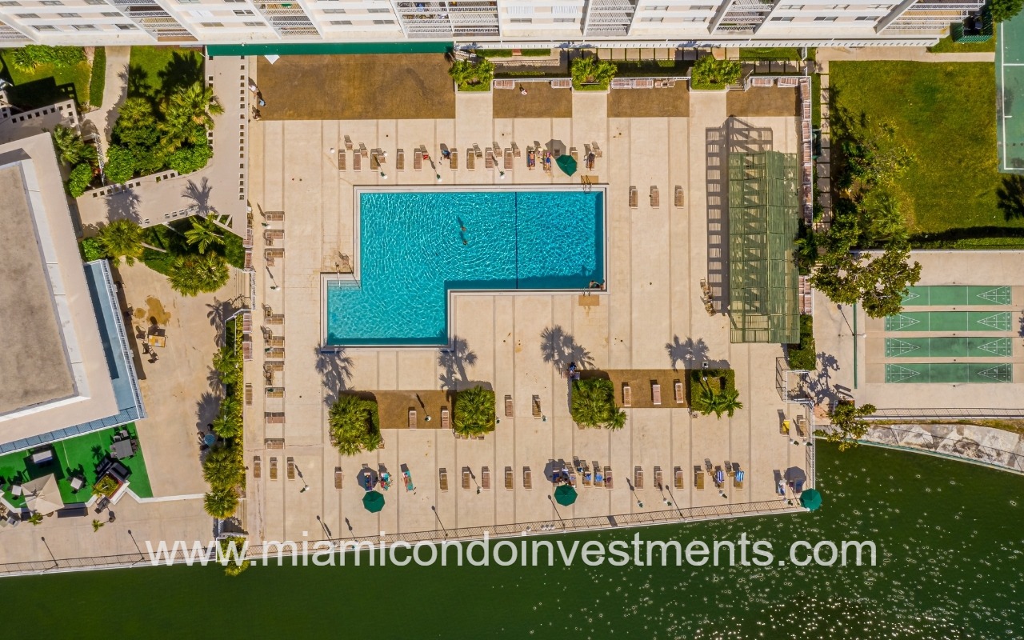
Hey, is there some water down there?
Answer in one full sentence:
Yes, some water is visible.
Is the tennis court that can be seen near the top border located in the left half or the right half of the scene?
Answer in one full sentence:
The tennis court that can be seen near the top border is on the right side of the image.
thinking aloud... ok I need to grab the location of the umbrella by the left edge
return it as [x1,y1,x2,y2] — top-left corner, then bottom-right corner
[9,473,65,515]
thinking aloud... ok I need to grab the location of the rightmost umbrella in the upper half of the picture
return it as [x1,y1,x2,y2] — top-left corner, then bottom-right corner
[554,152,576,175]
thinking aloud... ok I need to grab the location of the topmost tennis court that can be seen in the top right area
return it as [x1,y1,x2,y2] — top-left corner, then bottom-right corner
[995,9,1024,173]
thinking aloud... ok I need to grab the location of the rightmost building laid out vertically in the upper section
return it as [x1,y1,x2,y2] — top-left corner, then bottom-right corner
[728,147,799,350]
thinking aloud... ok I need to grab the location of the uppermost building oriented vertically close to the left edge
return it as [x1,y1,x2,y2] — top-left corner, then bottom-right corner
[0,132,146,457]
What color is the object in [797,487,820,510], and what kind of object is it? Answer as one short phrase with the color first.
green umbrella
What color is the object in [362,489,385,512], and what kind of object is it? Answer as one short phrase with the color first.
green umbrella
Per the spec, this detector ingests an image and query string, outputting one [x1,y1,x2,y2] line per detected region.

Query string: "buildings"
[0,0,1012,52]
[0,132,146,457]
[728,147,799,350]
